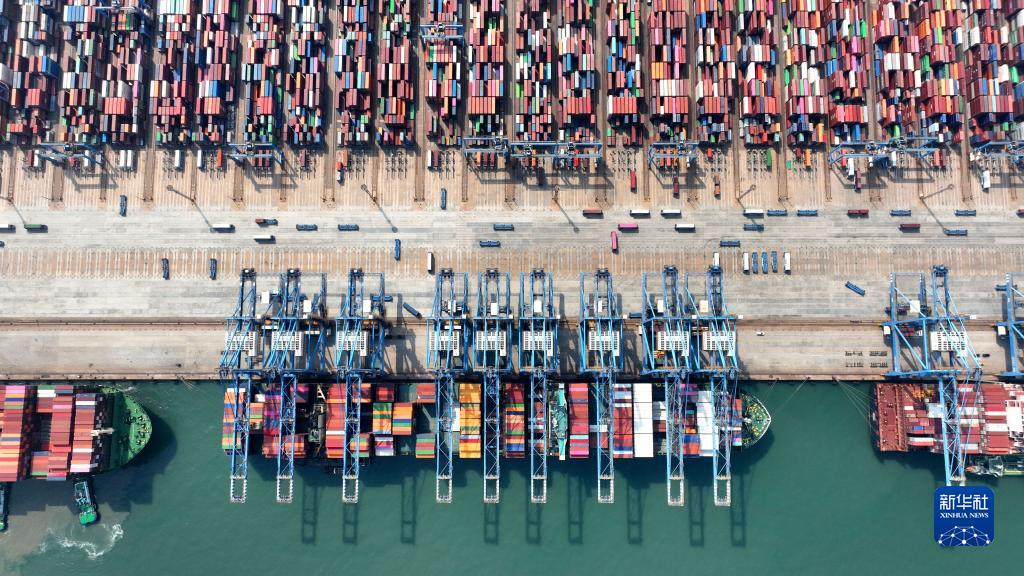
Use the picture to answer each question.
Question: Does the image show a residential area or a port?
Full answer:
The picture captures a port.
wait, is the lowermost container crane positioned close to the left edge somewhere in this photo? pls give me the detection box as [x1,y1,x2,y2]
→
[40,141,106,168]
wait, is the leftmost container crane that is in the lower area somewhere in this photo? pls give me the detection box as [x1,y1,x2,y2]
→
[216,265,293,503]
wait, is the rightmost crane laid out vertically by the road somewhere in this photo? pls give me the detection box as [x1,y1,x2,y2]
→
[993,272,1024,377]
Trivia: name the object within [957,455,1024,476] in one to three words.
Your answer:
vessel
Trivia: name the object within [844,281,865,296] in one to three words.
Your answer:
vehicle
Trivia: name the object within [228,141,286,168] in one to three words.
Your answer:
container crane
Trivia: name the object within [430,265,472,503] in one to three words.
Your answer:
container crane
